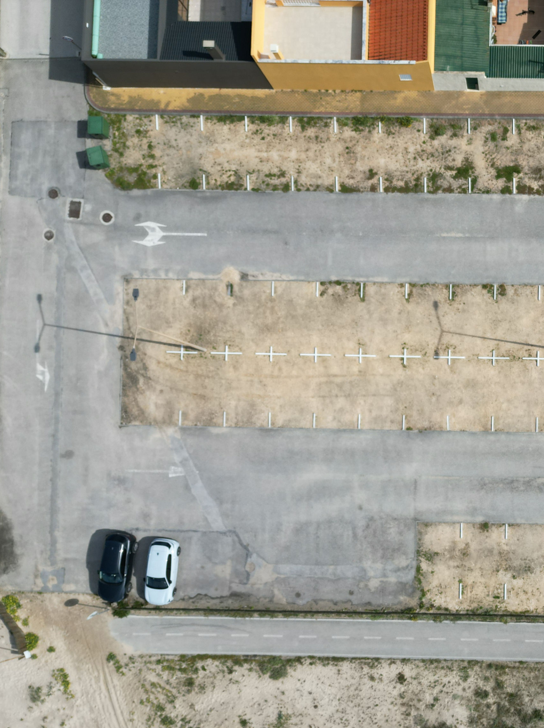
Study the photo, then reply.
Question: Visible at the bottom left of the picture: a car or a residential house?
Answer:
car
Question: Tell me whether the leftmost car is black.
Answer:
Yes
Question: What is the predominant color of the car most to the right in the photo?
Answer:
white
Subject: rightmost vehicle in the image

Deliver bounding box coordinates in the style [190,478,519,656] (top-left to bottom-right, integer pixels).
[143,537,184,604]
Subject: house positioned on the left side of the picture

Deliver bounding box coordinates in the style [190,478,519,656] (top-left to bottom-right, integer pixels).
[82,0,273,90]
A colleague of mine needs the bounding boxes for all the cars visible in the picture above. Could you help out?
[143,537,184,604]
[96,531,139,602]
